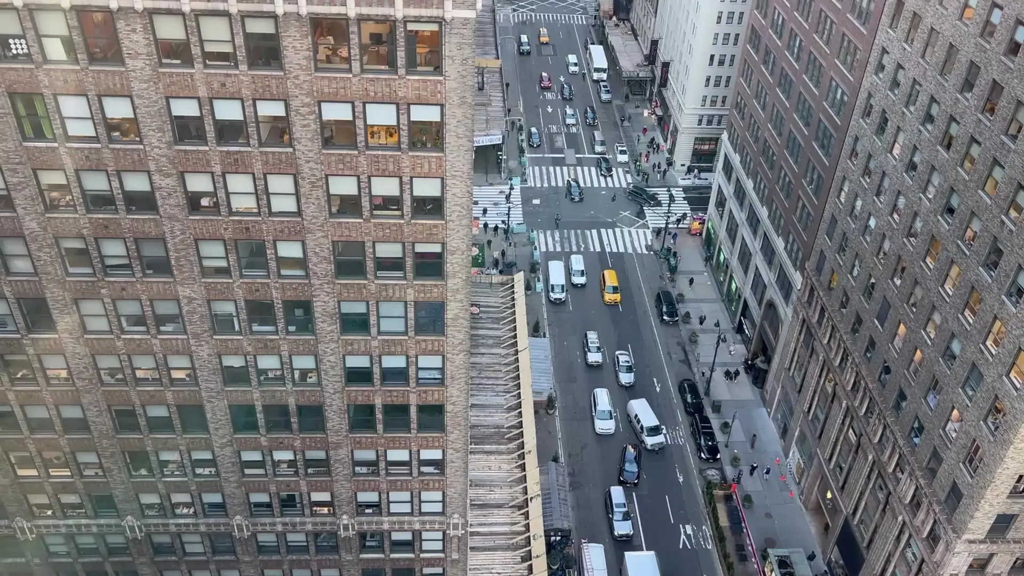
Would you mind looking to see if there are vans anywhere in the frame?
Yes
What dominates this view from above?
buildings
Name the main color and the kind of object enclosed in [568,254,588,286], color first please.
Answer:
white vehicle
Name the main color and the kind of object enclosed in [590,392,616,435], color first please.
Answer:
white car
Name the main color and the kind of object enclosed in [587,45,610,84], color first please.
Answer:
white truck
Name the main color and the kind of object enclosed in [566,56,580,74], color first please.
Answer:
white car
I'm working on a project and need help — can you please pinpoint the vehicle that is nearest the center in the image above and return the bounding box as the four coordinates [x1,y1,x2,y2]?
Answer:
[545,257,567,302]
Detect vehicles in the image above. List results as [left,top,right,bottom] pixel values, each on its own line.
[676,379,705,417]
[595,156,614,177]
[568,254,588,286]
[617,443,642,487]
[562,108,577,126]
[597,84,612,102]
[655,289,680,324]
[559,84,574,100]
[579,37,592,51]
[566,56,580,74]
[590,392,616,435]
[624,396,665,451]
[539,74,552,89]
[613,143,629,163]
[564,177,583,202]
[587,45,610,84]
[582,330,604,365]
[590,131,607,154]
[583,106,598,125]
[545,257,567,302]
[527,128,542,147]
[607,486,637,540]
[600,271,620,305]
[538,29,550,44]
[519,38,531,55]
[621,551,660,576]
[689,415,721,461]
[623,182,661,206]
[610,350,634,387]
